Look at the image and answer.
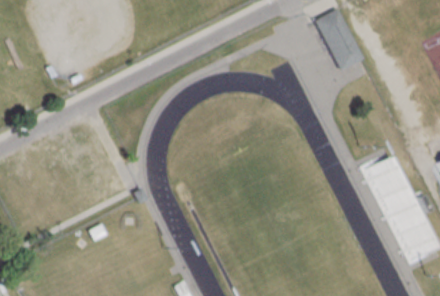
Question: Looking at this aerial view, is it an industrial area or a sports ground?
sports ground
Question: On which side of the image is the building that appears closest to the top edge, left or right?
right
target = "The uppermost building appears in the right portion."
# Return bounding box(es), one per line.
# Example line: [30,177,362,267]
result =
[314,9,364,68]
